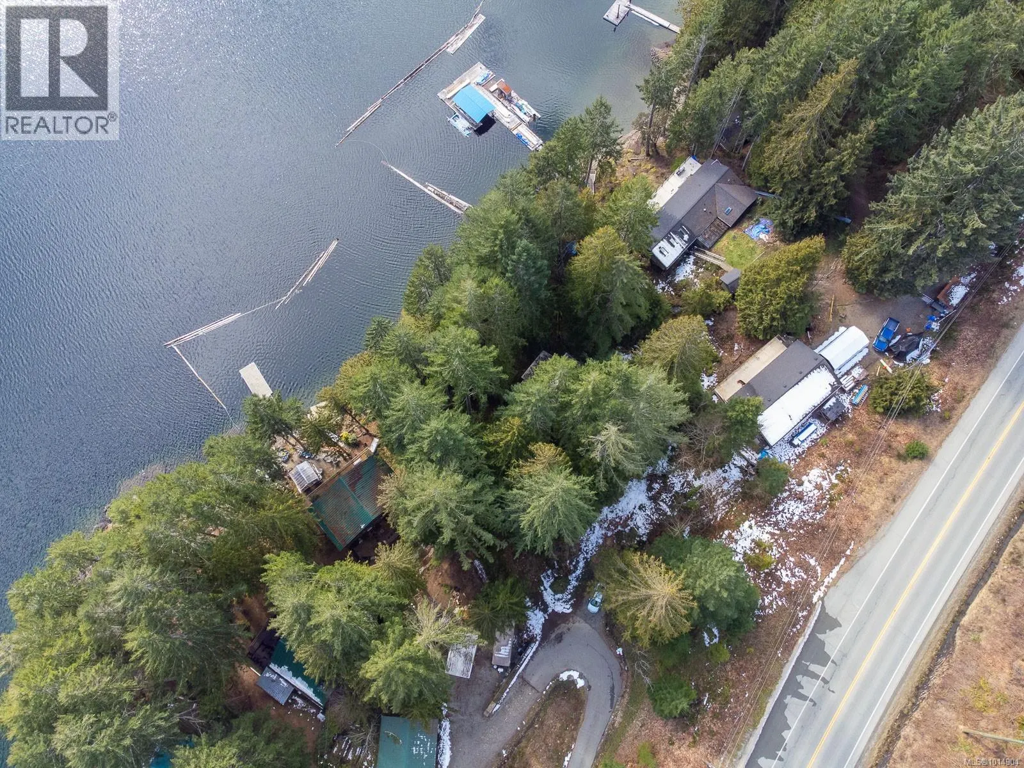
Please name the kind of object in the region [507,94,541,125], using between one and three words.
boat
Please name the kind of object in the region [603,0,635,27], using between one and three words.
pier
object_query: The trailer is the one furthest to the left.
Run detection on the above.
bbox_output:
[492,627,513,677]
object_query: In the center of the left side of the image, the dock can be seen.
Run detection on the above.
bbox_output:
[239,360,273,398]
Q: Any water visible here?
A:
Yes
